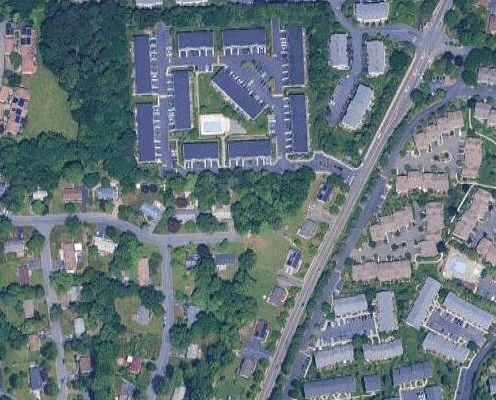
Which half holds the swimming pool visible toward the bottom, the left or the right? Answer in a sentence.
The swimming pool visible toward the bottom is on the right side of the image.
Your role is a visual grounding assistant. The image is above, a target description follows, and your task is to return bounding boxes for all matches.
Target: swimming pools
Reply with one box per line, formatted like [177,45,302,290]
[444,250,483,285]
[199,114,229,136]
